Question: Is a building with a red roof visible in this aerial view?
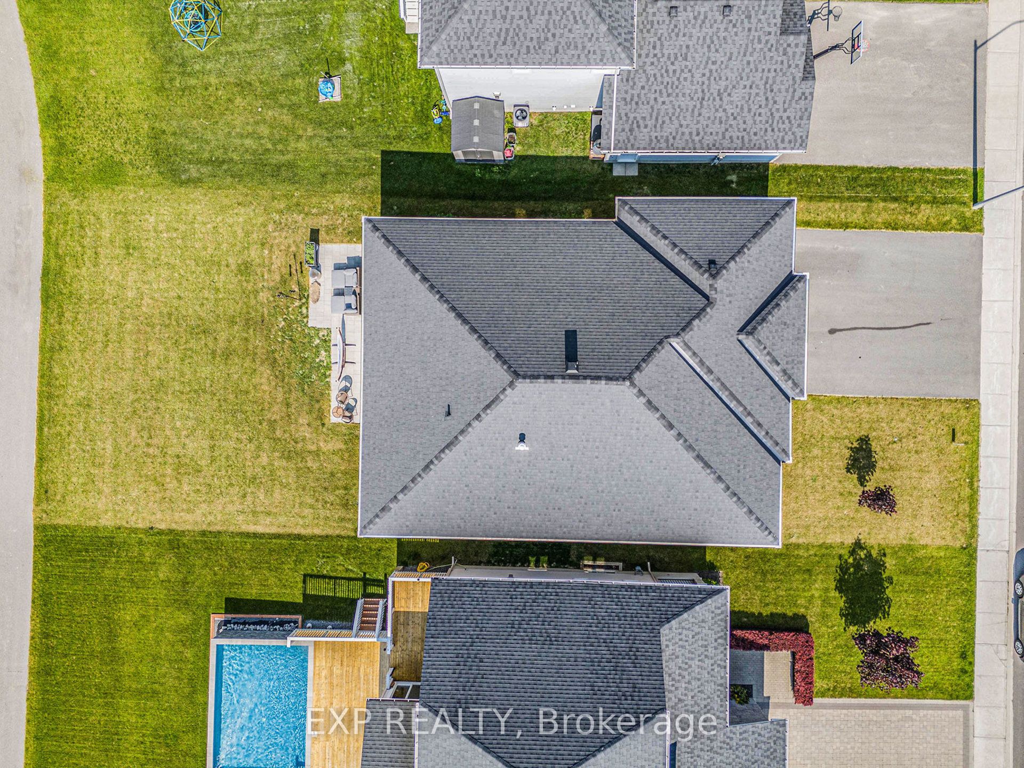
No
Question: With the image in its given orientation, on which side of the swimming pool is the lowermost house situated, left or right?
on its right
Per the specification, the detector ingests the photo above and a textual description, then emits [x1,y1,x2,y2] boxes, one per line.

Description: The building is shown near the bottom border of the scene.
[361,552,788,768]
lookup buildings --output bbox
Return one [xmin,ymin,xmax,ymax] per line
[418,0,817,167]
[358,196,808,546]
[361,552,788,768]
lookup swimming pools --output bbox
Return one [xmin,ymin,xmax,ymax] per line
[208,628,314,768]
